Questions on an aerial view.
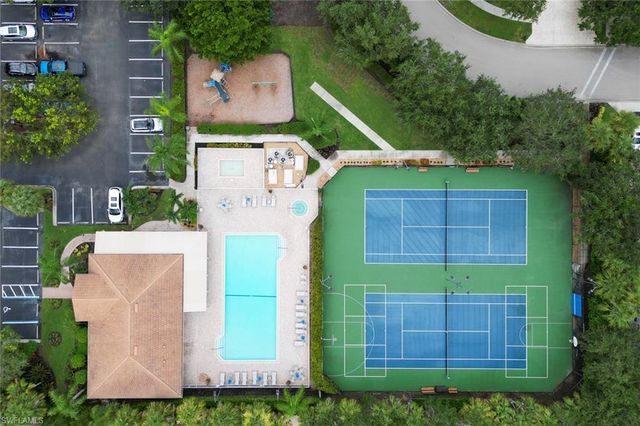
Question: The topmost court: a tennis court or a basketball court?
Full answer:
The topmost court is a tennis court.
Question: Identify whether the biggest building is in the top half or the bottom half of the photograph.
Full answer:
You can find the biggest building in the bottom half.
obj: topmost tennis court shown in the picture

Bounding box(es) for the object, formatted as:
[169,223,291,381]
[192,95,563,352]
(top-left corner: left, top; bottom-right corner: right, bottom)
[364,189,528,265]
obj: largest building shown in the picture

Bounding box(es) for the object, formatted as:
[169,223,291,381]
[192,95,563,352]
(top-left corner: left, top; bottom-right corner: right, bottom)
[71,254,186,399]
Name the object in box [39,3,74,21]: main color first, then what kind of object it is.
blue car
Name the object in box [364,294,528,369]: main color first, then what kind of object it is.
blue tennis court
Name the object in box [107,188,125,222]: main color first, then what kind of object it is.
white car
